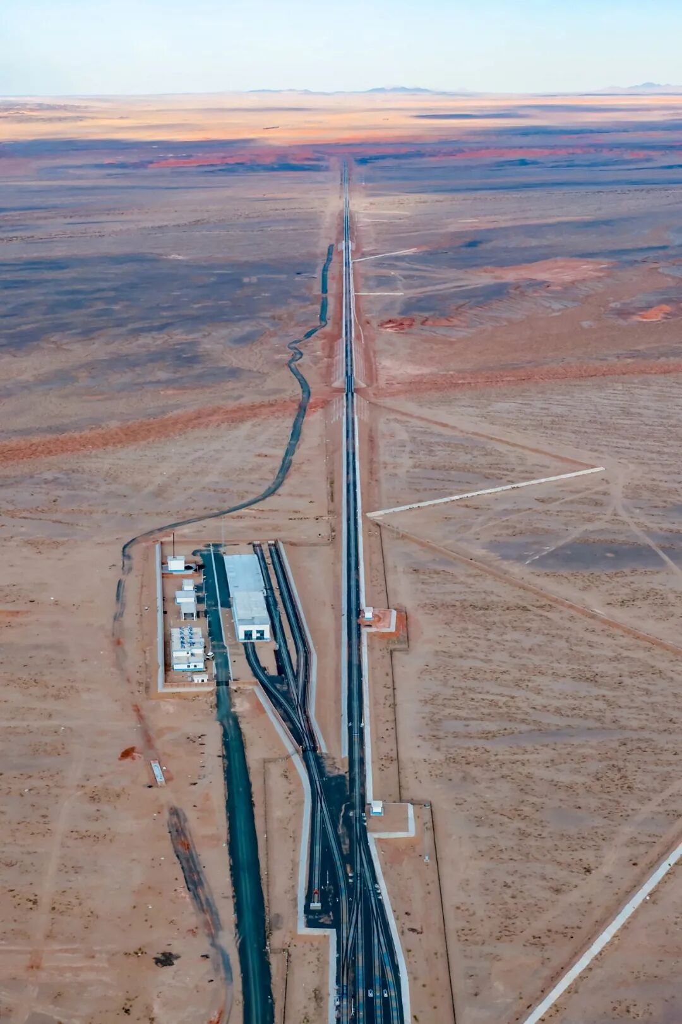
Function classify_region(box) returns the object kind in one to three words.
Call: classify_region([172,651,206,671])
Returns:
building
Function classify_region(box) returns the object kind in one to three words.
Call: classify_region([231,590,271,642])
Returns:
shed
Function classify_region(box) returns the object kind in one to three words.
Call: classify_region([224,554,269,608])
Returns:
building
